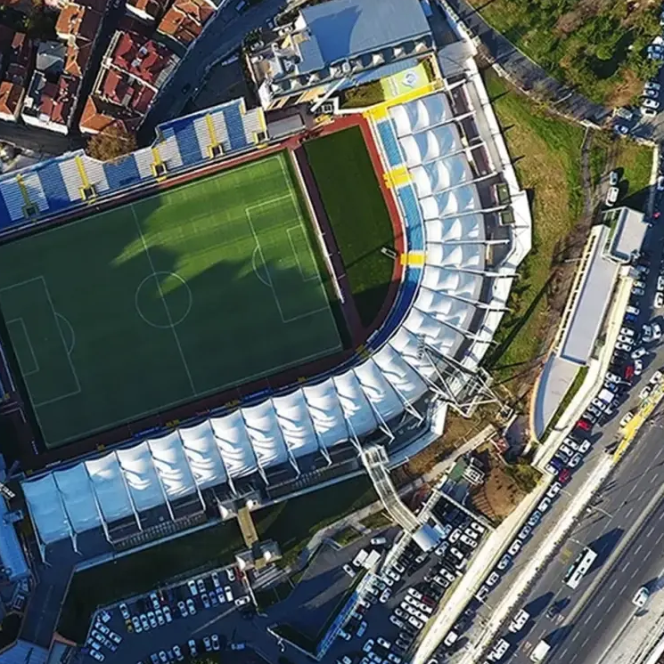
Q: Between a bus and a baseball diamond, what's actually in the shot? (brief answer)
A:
bus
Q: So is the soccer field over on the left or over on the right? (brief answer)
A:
left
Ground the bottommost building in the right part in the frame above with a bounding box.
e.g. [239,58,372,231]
[413,519,446,552]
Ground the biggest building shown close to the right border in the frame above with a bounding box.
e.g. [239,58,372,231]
[544,207,649,366]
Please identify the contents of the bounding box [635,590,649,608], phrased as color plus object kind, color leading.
white vehicle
